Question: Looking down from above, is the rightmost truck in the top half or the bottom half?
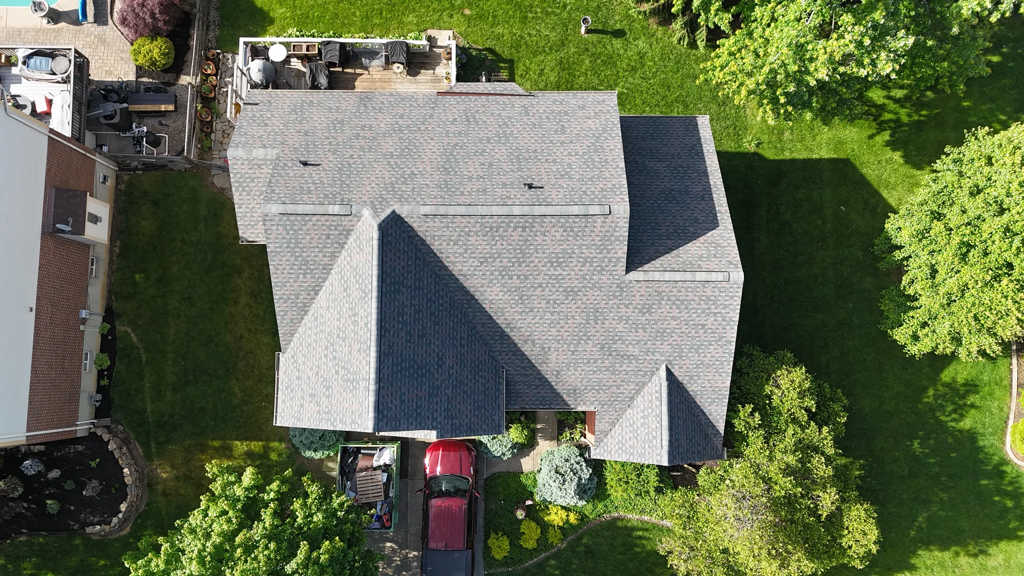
bottom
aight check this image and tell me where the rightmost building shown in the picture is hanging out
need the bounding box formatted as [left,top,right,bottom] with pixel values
[229,82,744,467]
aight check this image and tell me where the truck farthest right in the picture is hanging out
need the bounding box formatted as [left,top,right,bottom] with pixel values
[413,438,485,576]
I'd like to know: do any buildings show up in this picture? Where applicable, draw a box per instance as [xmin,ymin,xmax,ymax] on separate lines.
[229,82,744,467]
[0,96,123,448]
